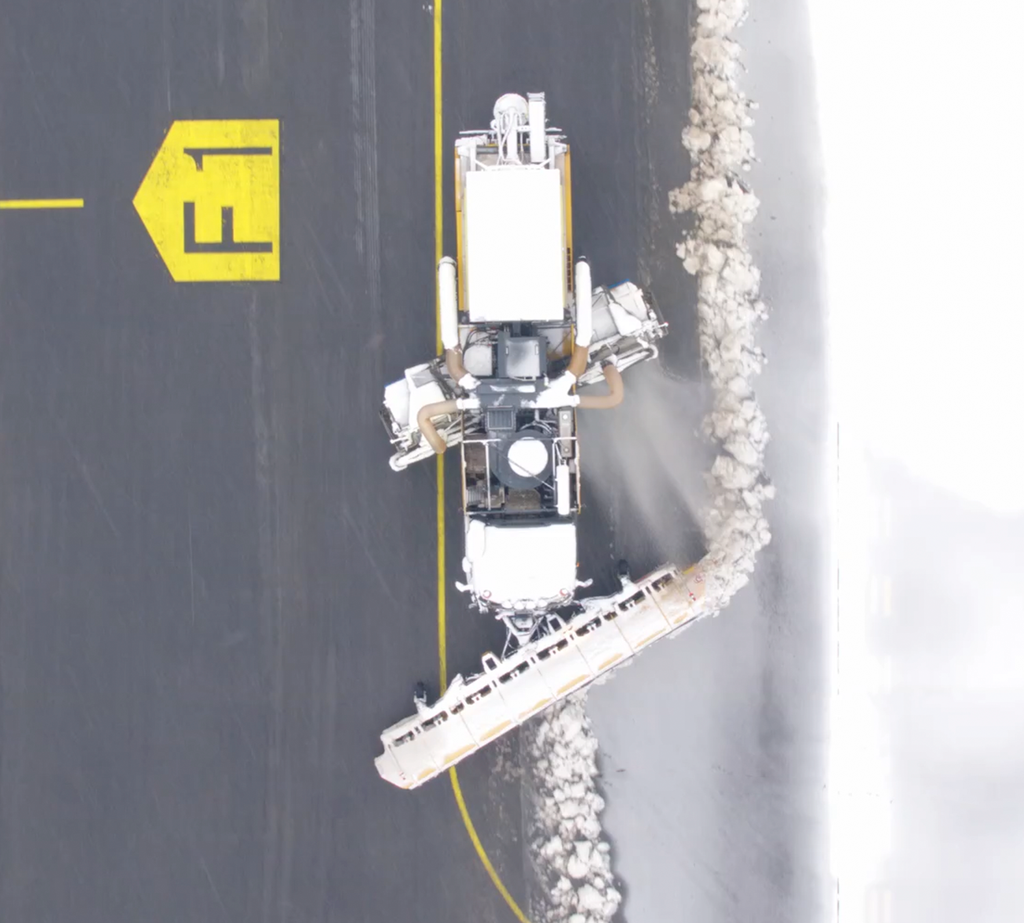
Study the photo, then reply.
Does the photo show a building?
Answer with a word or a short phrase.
No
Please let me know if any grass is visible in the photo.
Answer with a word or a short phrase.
No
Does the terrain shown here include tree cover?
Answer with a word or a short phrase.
No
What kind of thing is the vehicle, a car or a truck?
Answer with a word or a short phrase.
truck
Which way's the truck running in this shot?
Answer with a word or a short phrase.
from top to bottom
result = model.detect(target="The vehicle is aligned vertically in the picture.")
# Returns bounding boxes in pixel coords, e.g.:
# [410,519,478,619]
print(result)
[375,92,708,792]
